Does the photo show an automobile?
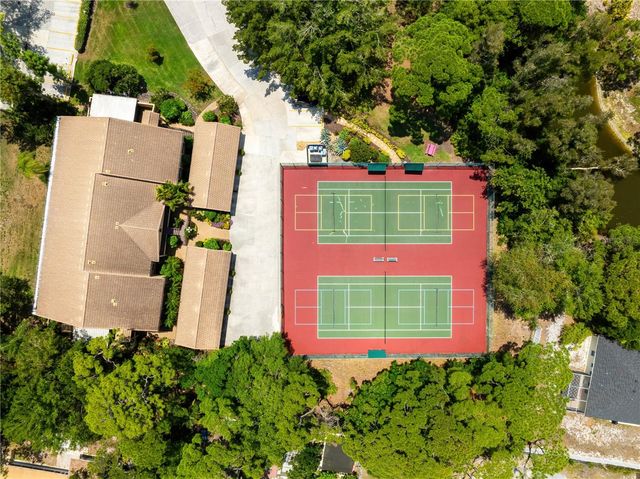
No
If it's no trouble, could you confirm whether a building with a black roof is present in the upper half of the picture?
No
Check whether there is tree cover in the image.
Yes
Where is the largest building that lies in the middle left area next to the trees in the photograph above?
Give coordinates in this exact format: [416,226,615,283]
[31,117,184,331]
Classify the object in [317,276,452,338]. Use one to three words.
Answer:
tennis court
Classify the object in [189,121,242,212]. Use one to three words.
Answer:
building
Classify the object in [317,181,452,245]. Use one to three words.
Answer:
tennis court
